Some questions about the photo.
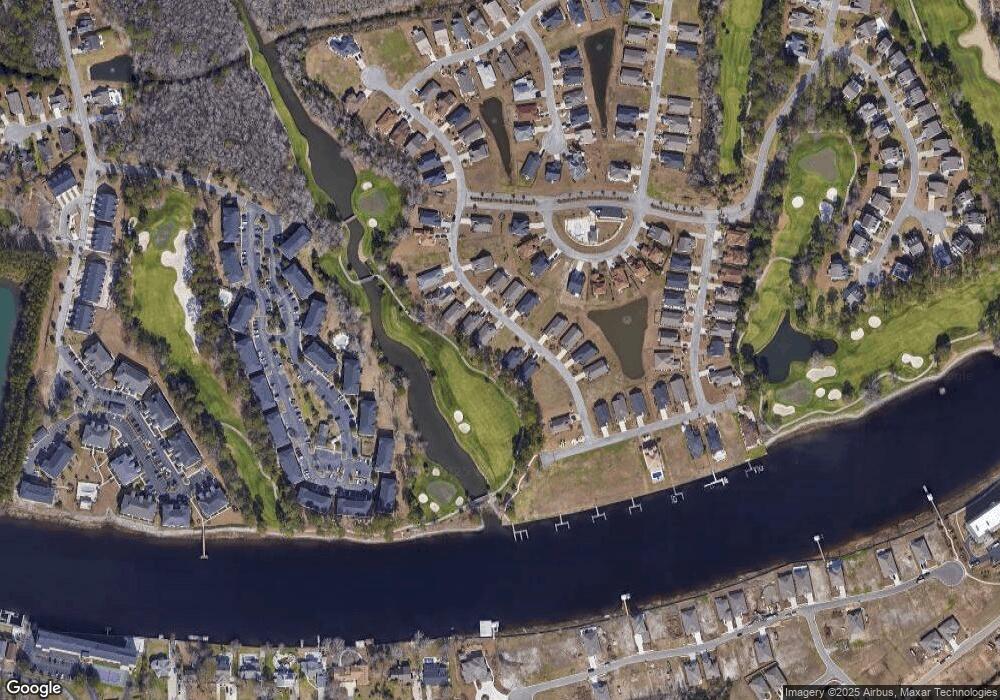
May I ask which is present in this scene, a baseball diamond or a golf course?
golf course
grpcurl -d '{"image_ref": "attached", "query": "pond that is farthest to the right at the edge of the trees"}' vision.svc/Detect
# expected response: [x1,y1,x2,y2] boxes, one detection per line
[756,310,838,383]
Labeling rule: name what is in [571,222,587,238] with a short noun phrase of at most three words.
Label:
swimming pool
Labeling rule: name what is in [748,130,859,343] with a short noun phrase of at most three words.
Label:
golf course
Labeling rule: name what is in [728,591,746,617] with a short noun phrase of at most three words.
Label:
house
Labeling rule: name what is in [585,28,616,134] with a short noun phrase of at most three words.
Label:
pond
